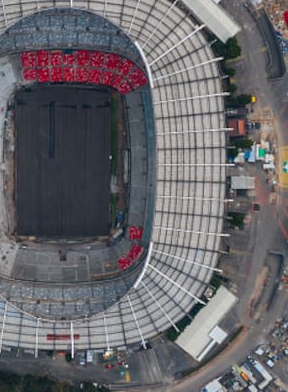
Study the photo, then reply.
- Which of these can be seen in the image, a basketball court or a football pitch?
football pitch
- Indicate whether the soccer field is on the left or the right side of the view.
left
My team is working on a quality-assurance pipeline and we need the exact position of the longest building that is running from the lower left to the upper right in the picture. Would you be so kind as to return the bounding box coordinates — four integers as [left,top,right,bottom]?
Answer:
[173,284,237,360]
